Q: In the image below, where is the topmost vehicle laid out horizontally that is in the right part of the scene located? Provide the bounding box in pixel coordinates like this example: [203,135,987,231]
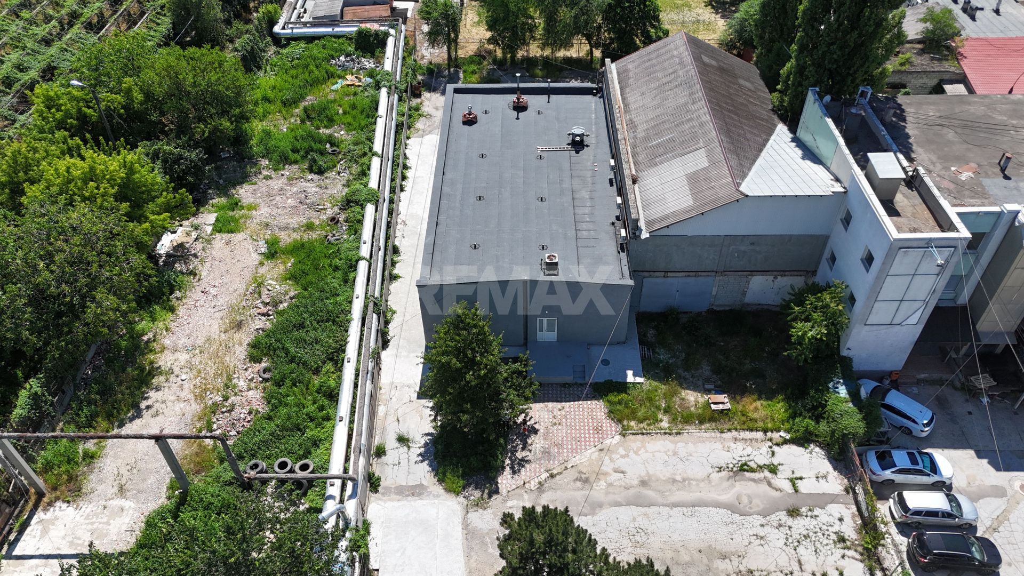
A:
[864,447,956,487]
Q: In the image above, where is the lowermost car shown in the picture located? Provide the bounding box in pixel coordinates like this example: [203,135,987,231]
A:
[905,529,1003,575]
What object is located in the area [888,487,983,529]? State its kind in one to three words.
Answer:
car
